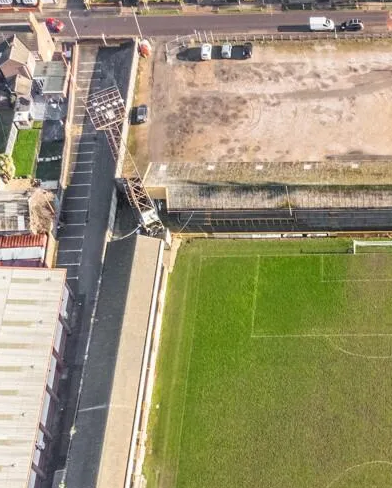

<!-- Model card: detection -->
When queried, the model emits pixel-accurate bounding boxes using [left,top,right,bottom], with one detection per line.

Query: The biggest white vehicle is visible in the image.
[310,18,334,31]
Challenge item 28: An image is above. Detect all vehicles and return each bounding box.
[136,108,148,124]
[200,45,212,63]
[241,44,253,61]
[47,19,65,34]
[222,46,232,61]
[310,18,334,31]
[343,20,363,31]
